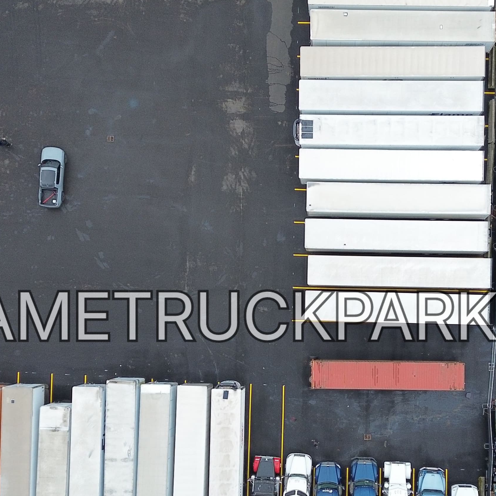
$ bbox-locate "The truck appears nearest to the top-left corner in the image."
[38,147,69,209]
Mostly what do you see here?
paved ground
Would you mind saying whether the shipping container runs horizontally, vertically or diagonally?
horizontally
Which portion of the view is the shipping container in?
bottom right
